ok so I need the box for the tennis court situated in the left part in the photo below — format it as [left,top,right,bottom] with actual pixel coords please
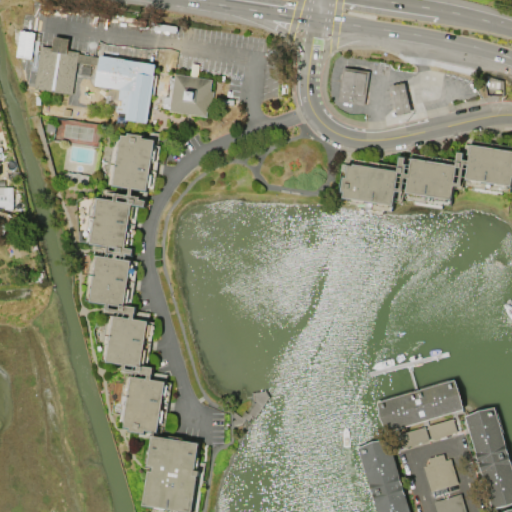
[56,120,98,146]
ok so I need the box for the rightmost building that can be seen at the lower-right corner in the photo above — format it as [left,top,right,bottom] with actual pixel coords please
[464,406,512,509]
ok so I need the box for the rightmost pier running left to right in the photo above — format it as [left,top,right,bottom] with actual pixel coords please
[370,352,450,390]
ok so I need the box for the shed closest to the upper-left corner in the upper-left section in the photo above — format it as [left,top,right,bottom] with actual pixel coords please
[16,30,36,60]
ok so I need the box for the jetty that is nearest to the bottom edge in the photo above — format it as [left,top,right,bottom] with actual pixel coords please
[244,391,270,424]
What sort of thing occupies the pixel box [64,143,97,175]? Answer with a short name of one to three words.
swimming pool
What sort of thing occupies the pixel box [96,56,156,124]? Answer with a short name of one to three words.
building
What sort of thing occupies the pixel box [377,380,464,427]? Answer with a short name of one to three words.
building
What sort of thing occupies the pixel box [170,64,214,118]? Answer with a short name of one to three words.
house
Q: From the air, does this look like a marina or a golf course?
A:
marina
